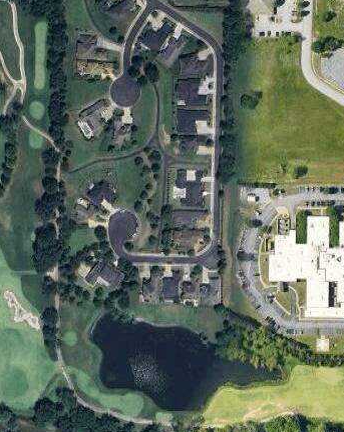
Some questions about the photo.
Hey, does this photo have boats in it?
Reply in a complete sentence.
No, this view has no boat in it.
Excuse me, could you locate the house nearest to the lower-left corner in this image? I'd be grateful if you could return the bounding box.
[83,261,124,287]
